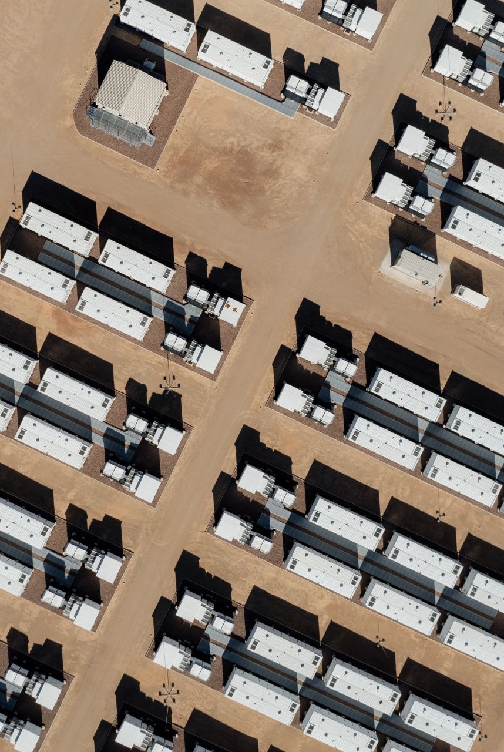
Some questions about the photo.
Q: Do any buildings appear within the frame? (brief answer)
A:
Yes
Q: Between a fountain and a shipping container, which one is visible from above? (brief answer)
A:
shipping container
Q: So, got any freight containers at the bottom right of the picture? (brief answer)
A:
Yes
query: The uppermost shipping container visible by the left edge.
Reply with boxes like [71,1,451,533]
[21,203,100,258]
